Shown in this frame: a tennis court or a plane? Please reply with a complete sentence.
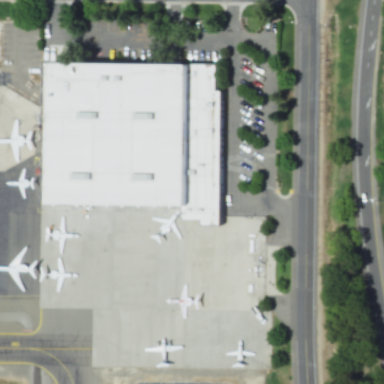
The image shows a plane.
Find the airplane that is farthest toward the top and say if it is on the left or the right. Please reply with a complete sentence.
You can find the airplane that is farthest toward the top on the left side of the picture.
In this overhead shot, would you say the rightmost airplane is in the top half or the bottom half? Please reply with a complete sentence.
Seen from above, the rightmost airplane lies in the bottom half of the view.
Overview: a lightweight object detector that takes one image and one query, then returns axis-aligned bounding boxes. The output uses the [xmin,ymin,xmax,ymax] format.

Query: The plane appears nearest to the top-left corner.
[0,121,34,163]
